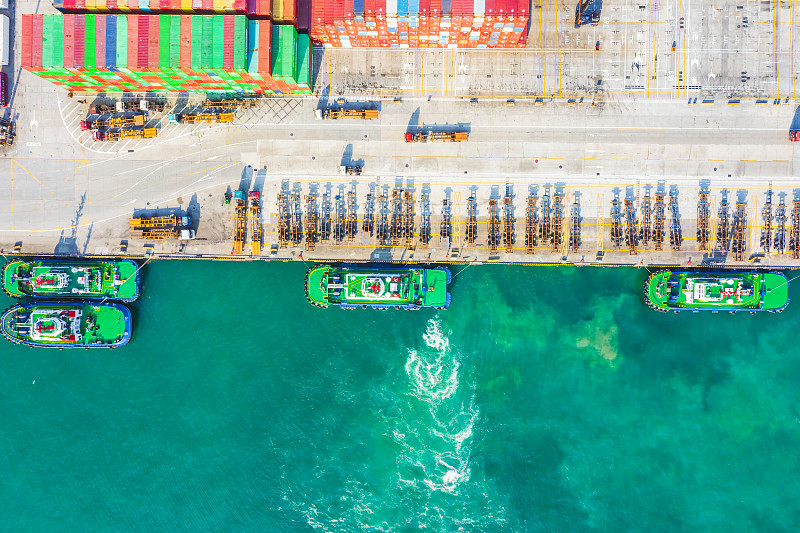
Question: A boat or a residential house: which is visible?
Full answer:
Visible in the photo is a boat.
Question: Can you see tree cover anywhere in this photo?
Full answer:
No, the picture contains no tree cover.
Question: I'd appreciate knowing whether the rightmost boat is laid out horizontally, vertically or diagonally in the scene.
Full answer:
I'd say the rightmost boat is aligned horizontally in the picture.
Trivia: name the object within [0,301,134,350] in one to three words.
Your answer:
boat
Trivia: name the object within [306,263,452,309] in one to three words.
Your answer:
boat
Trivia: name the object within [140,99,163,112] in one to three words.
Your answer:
vehicle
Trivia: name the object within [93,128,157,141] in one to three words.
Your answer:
vehicle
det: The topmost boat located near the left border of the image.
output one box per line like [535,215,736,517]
[2,259,144,302]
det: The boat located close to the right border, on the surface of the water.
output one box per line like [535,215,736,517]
[646,270,791,313]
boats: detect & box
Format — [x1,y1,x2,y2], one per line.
[2,259,144,302]
[0,301,134,350]
[646,270,791,313]
[306,263,452,309]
